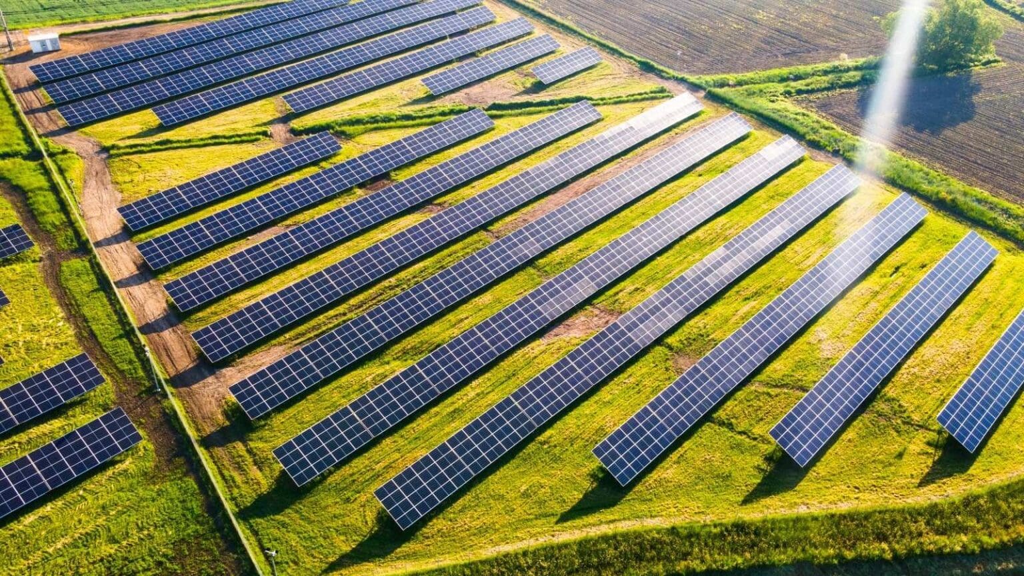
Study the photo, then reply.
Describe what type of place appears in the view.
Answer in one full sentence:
This looks like a solar farm.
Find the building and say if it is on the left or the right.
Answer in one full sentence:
The building is on the left side of the image.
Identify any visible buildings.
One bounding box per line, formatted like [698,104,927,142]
[27,31,62,53]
